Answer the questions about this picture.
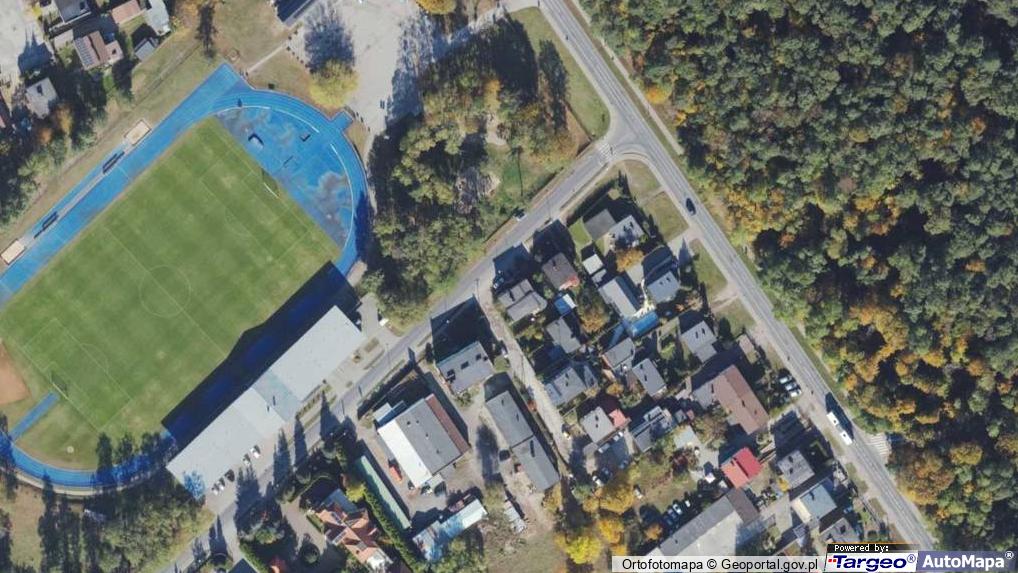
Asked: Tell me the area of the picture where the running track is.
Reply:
left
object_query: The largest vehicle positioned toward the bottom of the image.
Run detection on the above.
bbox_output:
[827,413,852,445]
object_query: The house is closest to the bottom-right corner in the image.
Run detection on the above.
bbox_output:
[819,517,862,560]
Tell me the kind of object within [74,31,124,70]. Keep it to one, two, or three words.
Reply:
house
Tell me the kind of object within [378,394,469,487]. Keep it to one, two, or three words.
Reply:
building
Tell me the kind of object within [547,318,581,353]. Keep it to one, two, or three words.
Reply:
house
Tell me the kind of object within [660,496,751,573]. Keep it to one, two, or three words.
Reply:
building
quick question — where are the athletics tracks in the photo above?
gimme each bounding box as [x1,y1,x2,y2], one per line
[0,62,373,495]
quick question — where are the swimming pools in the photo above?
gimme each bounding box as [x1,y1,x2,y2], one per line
[627,307,665,340]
